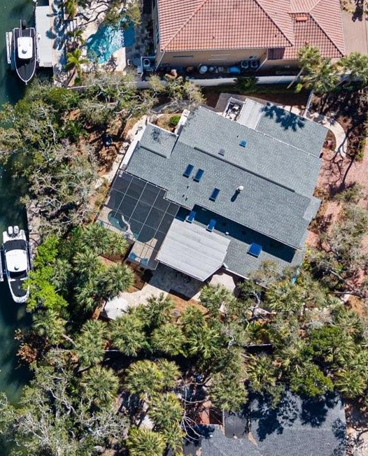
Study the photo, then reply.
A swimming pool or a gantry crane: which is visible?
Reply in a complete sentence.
Of the two, only a swimming pool appears.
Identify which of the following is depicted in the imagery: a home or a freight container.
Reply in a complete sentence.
It is a home that can be seen here.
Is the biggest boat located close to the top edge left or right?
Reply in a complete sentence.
The biggest boat located close to the top edge is on the left side of the image.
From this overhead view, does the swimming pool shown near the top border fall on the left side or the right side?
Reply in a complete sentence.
The swimming pool shown near the top border appears in the left half of the scene.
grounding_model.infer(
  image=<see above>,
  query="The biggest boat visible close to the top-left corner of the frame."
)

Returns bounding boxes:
[14,21,36,84]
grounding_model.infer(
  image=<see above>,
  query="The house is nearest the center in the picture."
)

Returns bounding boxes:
[112,98,328,297]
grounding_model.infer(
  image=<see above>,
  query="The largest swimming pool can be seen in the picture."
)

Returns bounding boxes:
[85,13,138,67]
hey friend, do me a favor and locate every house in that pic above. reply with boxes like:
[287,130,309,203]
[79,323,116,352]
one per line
[182,391,346,456]
[152,0,345,70]
[112,98,328,297]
